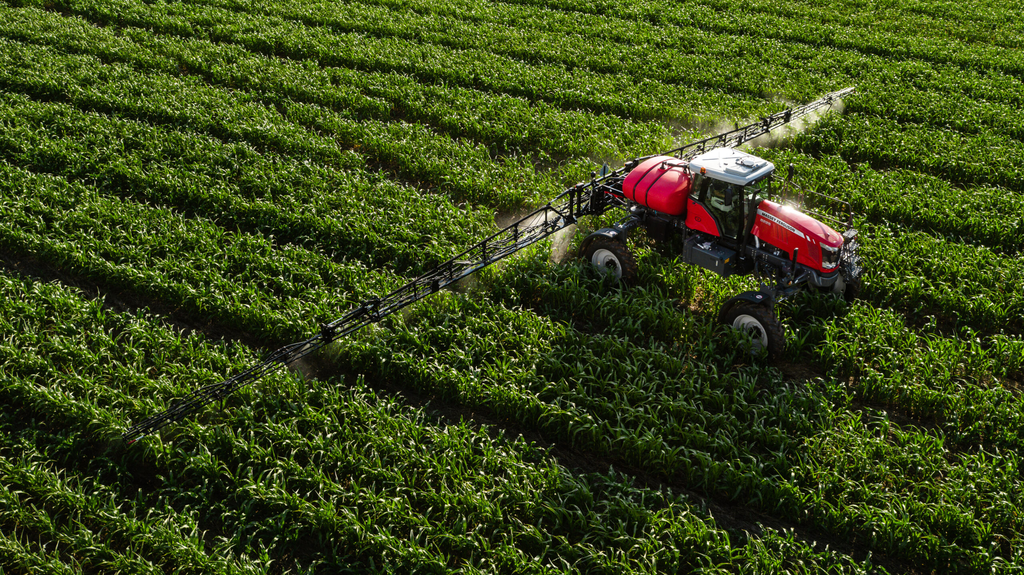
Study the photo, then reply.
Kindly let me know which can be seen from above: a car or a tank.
tank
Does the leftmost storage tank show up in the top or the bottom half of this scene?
top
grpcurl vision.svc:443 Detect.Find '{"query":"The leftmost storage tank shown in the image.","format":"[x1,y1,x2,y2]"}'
[619,146,704,210]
